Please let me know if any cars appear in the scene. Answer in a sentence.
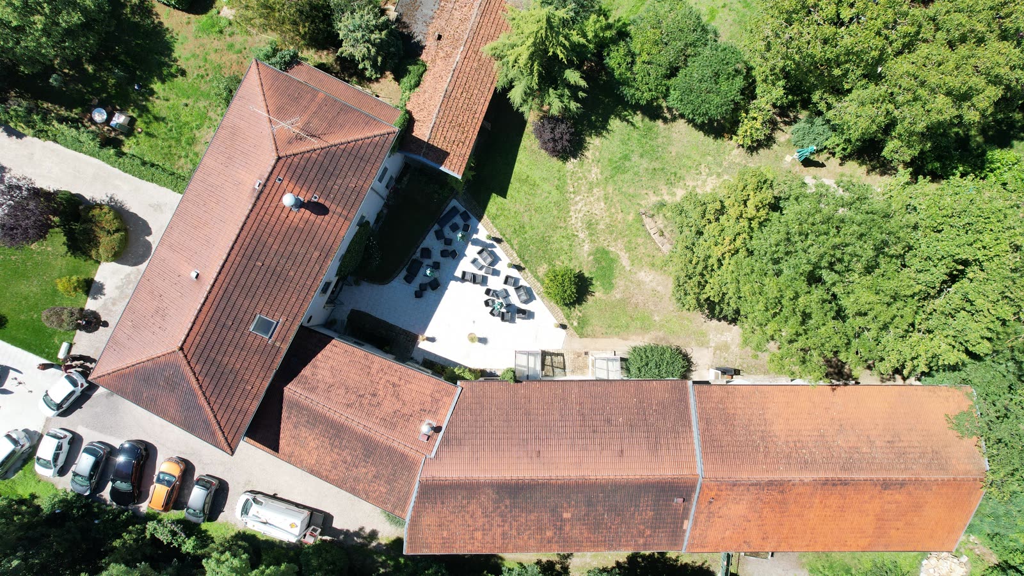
Yes, the frame does contain a car.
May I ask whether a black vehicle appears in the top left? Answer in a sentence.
No, there is no black vehicle in the top left.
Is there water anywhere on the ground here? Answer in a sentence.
No, water can't be seen anywhere here.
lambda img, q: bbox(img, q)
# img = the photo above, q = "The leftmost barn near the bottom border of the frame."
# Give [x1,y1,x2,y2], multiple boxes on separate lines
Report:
[402,379,704,555]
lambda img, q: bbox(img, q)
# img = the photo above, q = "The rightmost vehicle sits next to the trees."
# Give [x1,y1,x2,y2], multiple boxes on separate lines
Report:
[233,487,318,551]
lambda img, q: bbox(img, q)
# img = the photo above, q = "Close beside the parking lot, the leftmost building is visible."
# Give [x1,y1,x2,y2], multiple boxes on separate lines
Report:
[89,58,402,457]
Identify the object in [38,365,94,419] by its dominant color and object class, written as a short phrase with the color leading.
white car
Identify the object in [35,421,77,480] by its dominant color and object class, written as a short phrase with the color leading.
white car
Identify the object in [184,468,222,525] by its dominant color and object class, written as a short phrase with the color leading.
gray car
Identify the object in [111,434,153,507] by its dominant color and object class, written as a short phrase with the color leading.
black car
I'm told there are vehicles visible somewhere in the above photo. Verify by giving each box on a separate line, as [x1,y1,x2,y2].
[111,434,153,507]
[0,424,39,482]
[142,450,192,516]
[38,365,94,419]
[184,468,222,525]
[233,487,318,551]
[71,434,115,500]
[35,421,77,480]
